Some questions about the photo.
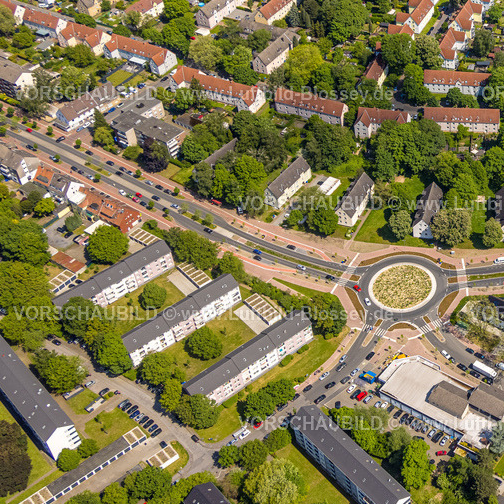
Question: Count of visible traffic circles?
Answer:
1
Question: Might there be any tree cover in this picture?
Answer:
Yes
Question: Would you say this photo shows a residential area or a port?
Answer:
residential area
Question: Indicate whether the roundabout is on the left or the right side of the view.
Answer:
right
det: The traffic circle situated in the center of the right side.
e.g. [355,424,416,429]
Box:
[358,255,448,320]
